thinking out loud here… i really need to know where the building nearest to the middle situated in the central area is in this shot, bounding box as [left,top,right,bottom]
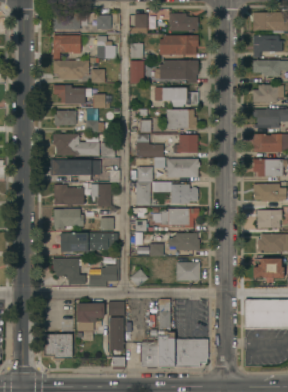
[136,182,151,204]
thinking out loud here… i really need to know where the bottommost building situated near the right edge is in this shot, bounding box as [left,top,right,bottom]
[246,299,288,329]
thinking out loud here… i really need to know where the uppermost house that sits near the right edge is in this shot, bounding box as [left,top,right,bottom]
[254,11,288,30]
